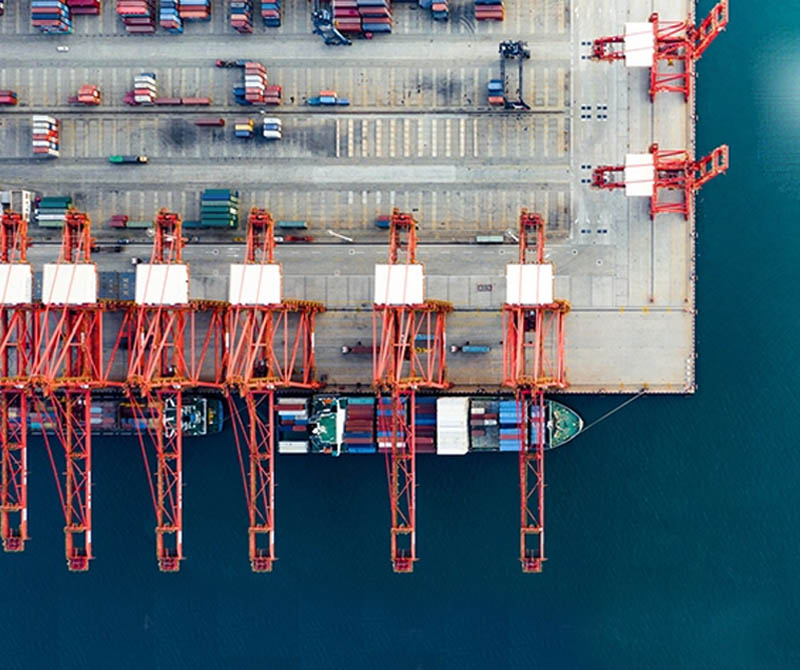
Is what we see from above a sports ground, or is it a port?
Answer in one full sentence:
It's a port.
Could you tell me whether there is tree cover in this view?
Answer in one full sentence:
No, there's no tree cover in this view.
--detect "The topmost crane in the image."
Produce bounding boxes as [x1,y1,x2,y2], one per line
[312,0,351,45]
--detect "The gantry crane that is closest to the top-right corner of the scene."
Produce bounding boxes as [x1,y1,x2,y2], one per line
[587,2,730,109]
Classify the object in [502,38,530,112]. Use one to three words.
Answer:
container crane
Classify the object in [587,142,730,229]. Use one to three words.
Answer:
container crane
